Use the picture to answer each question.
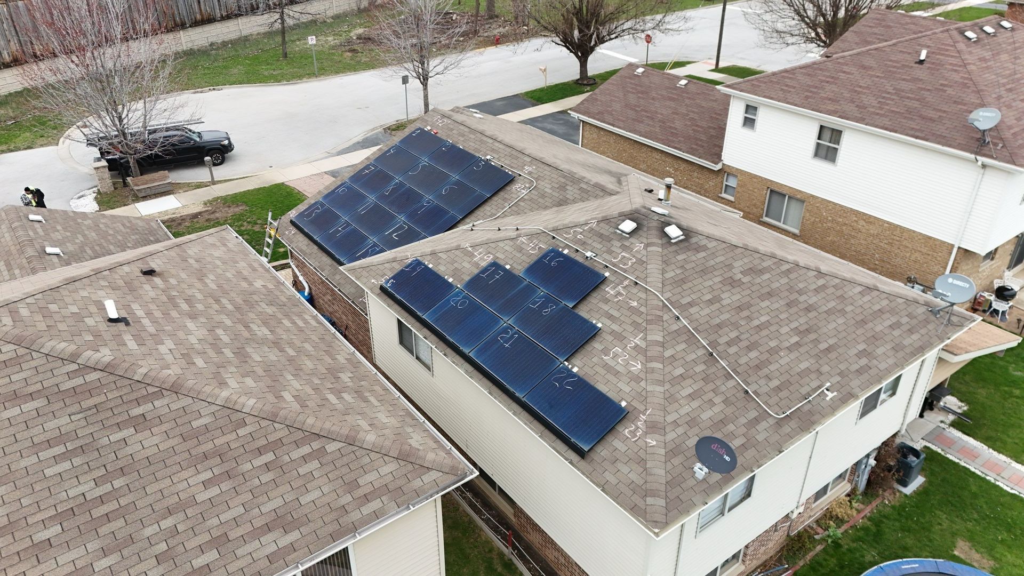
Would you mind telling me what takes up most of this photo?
buildings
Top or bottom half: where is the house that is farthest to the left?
bottom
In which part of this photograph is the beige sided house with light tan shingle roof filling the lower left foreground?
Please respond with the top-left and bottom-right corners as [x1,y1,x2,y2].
[0,206,476,576]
